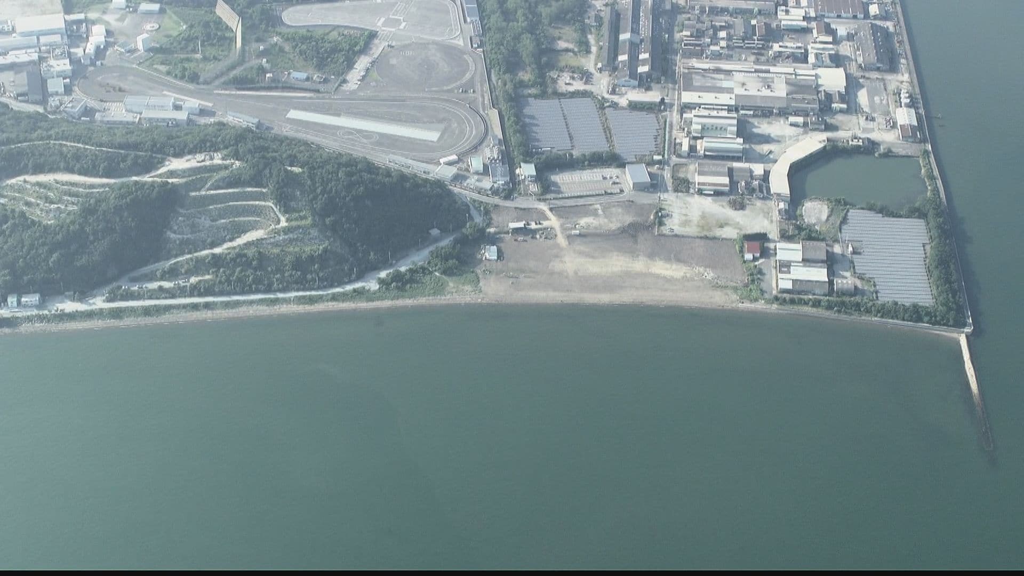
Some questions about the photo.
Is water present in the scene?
Yes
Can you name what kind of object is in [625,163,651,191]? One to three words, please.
building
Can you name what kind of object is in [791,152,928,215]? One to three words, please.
pond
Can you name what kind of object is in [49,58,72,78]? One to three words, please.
building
